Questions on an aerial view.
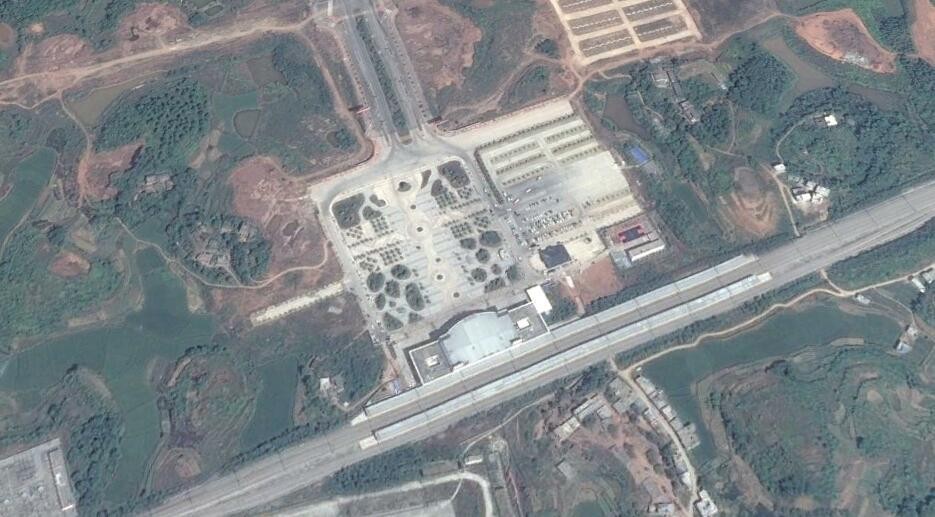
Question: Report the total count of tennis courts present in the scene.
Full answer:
The photo contains no tennis courts.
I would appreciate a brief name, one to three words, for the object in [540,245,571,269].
building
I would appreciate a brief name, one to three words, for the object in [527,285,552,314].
building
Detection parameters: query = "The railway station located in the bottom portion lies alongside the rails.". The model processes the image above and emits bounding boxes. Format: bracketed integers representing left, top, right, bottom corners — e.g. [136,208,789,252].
[409,301,549,385]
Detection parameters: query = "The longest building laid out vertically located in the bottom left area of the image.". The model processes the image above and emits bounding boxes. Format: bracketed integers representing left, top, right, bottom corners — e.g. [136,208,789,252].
[50,449,75,510]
